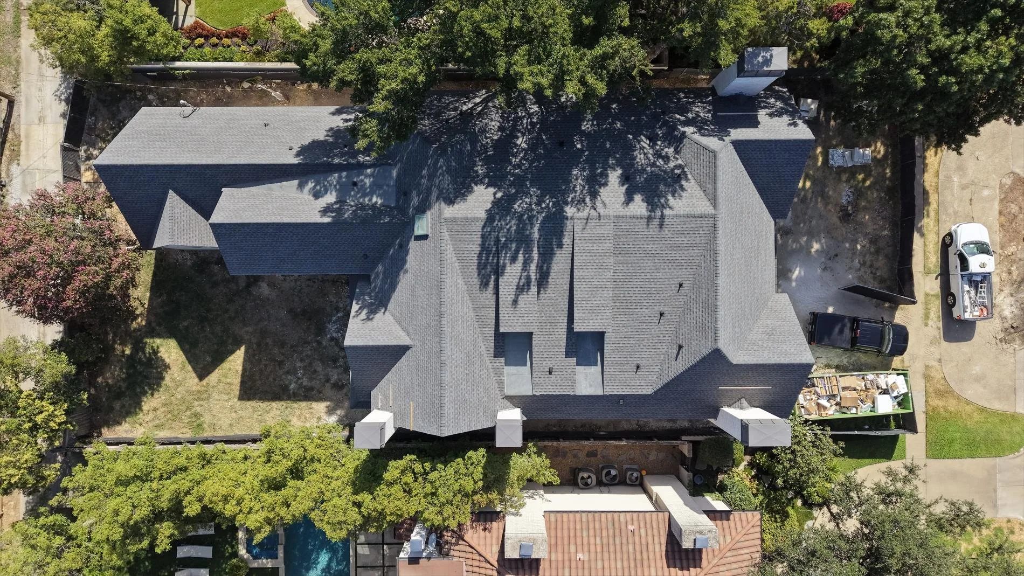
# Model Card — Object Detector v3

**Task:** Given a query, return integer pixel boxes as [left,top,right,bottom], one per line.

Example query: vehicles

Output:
[943,222,996,325]
[804,313,911,359]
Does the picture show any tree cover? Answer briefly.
Yes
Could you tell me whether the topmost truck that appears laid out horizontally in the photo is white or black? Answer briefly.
black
